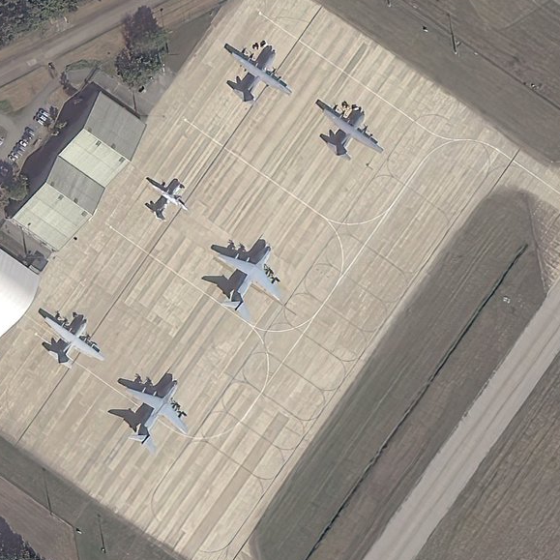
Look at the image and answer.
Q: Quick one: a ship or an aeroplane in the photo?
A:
aeroplane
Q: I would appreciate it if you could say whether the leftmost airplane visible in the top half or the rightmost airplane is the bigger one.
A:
the rightmost airplane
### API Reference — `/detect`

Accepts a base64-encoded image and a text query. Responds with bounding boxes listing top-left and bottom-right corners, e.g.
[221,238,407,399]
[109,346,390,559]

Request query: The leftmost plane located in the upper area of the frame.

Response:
[150,184,189,219]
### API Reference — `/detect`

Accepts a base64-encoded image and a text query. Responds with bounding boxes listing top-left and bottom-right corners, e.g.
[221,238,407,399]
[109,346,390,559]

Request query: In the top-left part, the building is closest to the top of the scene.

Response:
[51,91,149,187]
